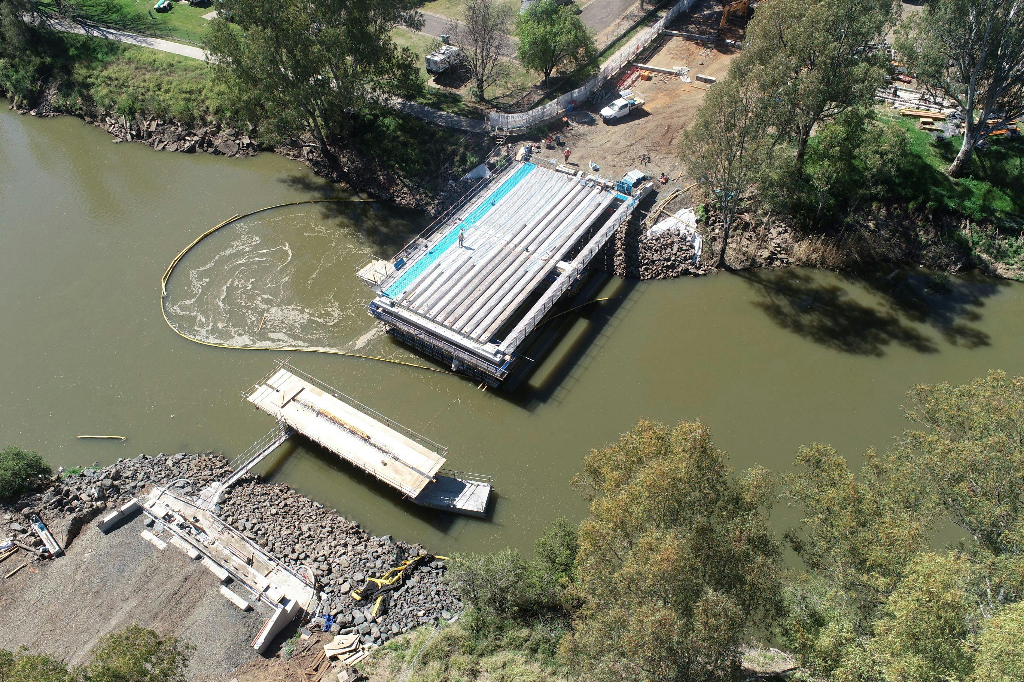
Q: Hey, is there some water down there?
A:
Yes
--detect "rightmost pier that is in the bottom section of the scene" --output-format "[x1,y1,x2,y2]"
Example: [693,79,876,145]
[406,453,502,520]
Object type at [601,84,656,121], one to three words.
truck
